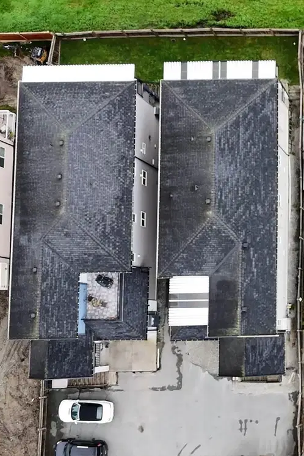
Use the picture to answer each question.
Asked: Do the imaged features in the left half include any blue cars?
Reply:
No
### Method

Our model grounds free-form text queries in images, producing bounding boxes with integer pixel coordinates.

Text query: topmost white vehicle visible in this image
[59,396,117,426]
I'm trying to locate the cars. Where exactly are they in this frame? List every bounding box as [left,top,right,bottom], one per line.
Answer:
[55,438,110,456]
[59,396,117,426]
